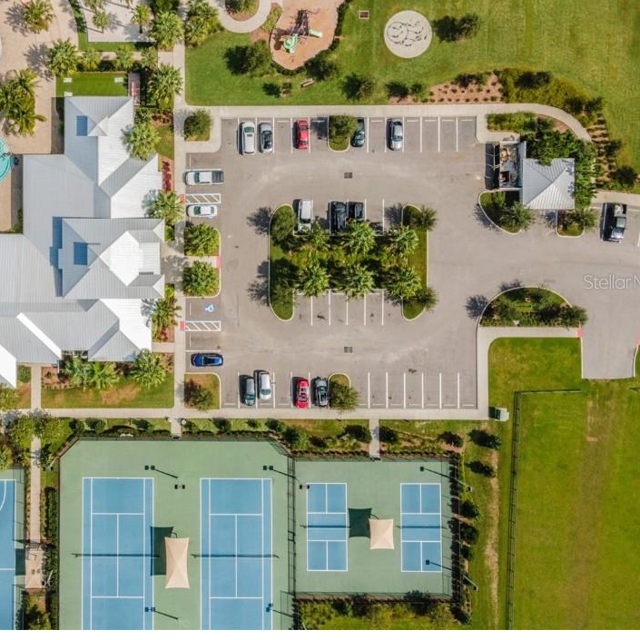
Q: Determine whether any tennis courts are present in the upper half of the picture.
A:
No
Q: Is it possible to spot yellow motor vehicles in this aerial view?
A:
No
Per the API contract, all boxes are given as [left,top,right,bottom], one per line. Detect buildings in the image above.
[0,98,164,390]
[516,159,574,209]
